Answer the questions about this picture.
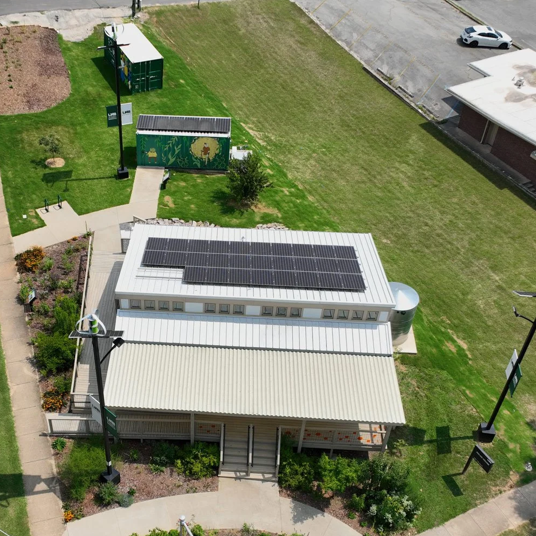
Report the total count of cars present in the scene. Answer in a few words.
1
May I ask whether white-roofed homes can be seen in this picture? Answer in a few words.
Yes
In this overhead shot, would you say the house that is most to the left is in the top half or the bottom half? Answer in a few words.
bottom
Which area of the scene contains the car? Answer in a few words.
top right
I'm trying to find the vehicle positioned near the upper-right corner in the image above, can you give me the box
[460,21,523,49]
